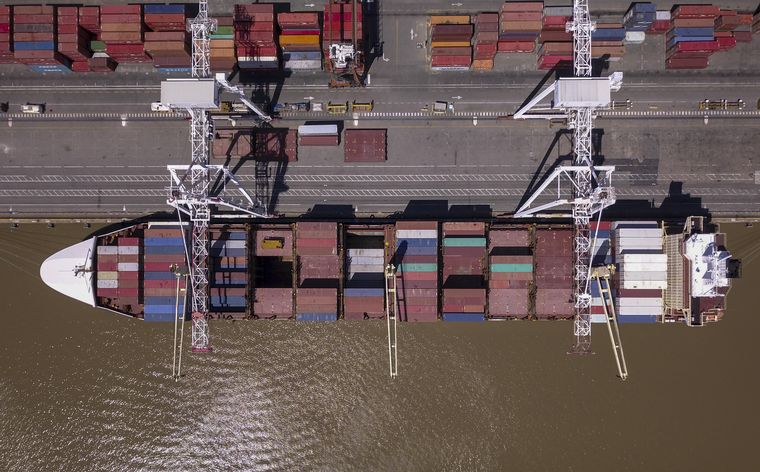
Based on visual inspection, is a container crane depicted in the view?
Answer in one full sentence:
Yes, the frame does contain a container crane.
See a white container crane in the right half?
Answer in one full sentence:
Yes, there is a white container crane in the right half.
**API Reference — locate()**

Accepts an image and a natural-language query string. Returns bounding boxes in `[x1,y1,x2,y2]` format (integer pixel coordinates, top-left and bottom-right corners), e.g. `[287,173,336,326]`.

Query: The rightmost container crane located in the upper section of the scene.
[499,0,620,351]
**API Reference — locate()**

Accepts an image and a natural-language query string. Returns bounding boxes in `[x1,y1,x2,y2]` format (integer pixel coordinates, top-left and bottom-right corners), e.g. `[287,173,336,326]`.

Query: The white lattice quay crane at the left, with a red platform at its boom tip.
[161,0,281,353]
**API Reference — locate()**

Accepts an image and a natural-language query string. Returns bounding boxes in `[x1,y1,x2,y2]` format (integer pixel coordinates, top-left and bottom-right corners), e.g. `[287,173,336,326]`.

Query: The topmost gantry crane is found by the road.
[327,0,366,85]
